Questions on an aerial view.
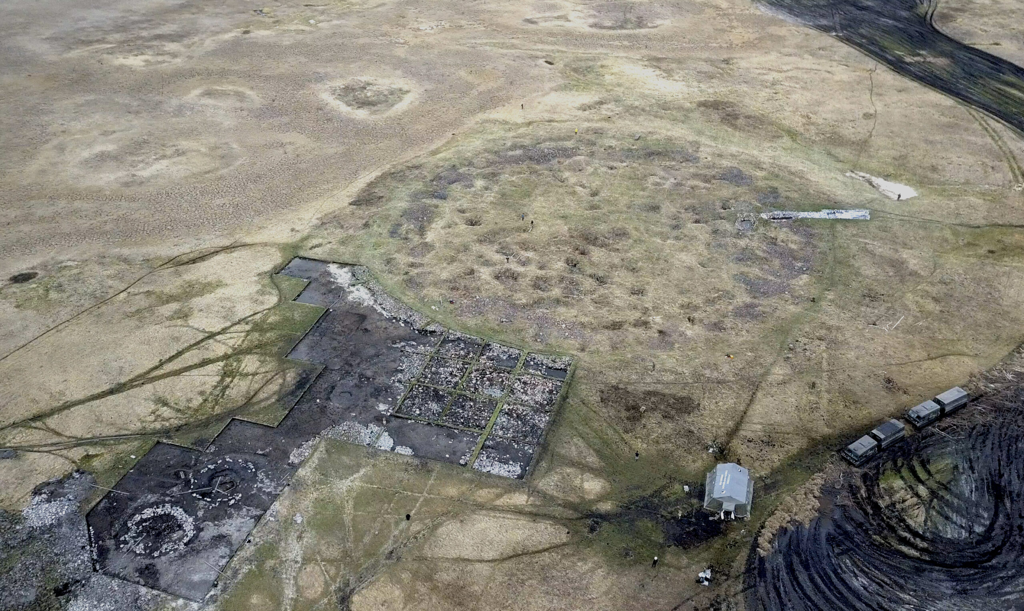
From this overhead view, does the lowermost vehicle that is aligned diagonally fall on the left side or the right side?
right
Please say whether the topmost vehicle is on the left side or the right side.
right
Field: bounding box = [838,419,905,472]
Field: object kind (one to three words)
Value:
vehicle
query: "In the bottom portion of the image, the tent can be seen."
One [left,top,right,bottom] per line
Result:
[700,463,757,525]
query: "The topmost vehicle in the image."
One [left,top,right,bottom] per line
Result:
[899,386,968,433]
